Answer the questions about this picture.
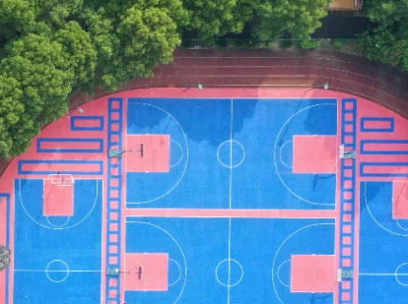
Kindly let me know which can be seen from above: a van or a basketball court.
basketball court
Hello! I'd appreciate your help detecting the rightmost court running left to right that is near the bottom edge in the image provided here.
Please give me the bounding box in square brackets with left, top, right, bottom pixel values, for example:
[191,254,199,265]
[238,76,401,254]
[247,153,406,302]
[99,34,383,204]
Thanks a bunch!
[124,217,335,304]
